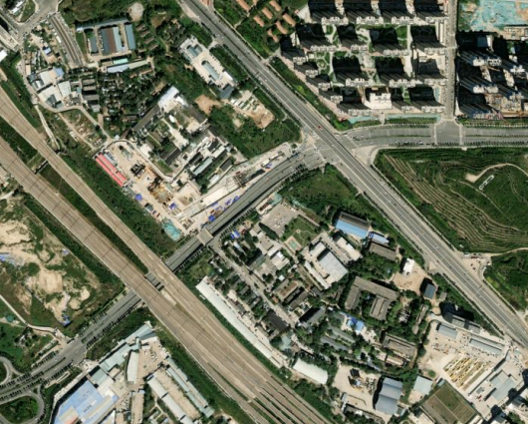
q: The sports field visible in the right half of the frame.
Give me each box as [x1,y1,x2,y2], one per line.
[421,378,477,424]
